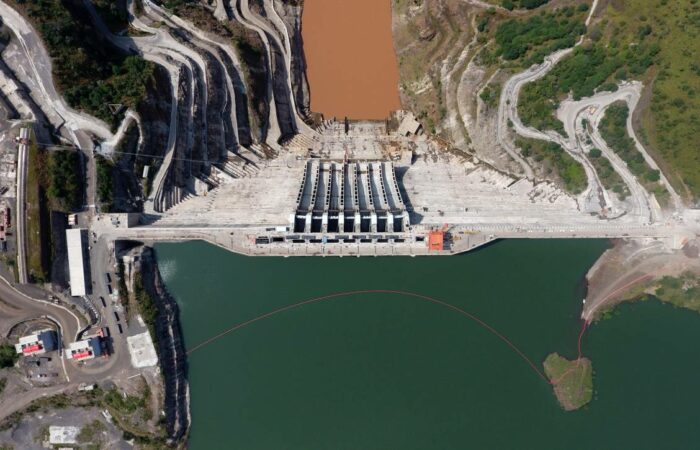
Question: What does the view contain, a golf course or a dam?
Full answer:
This aerial view contains a dam.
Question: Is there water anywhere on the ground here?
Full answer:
Yes, the picture does contain water.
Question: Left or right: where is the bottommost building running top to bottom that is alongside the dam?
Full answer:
The bottommost building running top to bottom that is alongside the dam sits on the left side.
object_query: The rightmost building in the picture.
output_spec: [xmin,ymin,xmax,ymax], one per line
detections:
[397,111,422,136]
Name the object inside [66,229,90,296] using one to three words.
building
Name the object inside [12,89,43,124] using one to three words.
building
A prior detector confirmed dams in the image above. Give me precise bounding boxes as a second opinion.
[100,116,648,257]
